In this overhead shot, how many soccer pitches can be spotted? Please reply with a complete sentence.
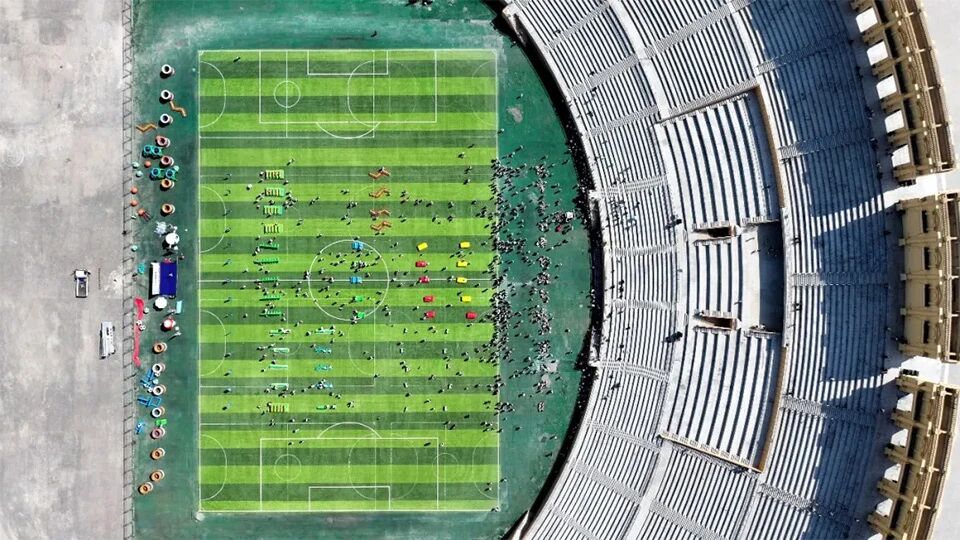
In total, 1 soccer pitch can be seen.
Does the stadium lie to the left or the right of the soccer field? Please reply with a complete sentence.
From the viewer's perspective, the stadium falls to the right of the soccer field.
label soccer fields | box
[197,48,501,514]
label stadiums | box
[488,0,960,540]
